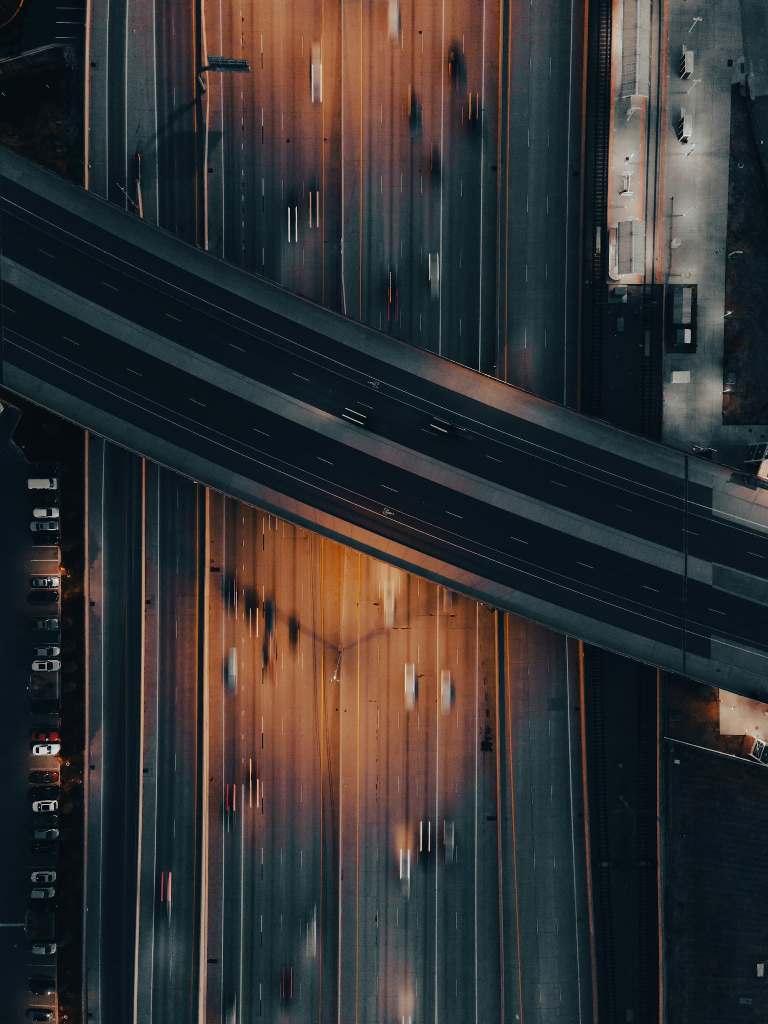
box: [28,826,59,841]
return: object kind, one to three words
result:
vehicle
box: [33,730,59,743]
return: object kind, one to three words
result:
vehicle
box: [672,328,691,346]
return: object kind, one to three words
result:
house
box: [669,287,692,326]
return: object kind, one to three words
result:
house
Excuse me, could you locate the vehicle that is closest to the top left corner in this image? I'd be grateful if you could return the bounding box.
[310,72,323,100]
